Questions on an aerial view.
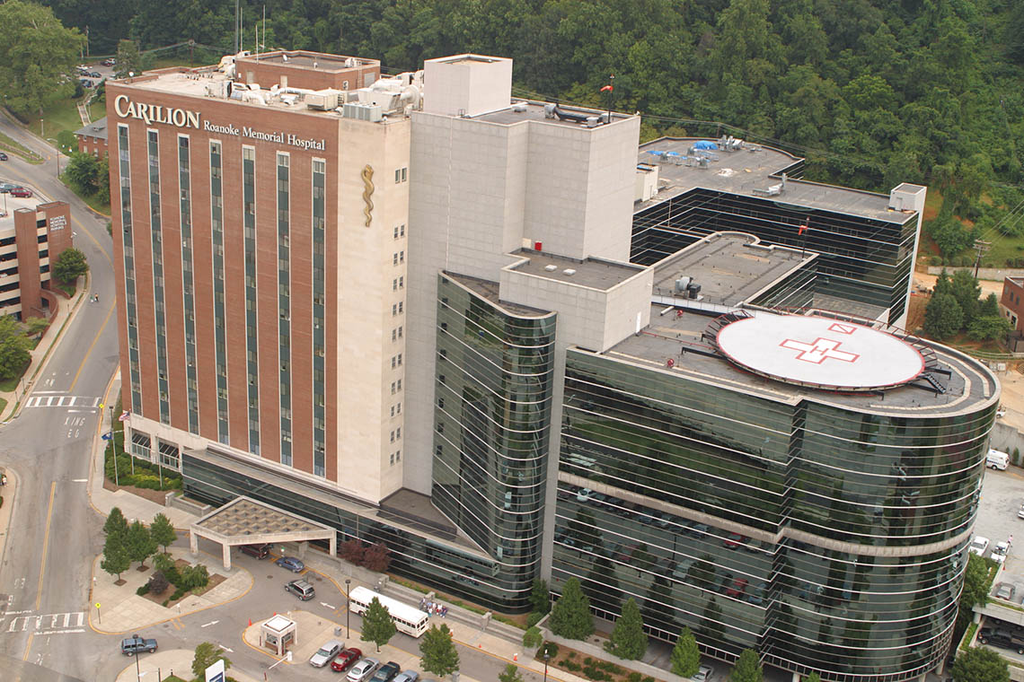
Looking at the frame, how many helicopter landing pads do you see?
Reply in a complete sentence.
In total, there is 1 helicopter landing pad in the scene.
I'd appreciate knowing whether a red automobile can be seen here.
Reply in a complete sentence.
Yes, the frame does contain a red automobile.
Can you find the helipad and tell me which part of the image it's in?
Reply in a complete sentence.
The helipad appears toward the right of the photo.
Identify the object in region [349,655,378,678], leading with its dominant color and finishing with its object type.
white car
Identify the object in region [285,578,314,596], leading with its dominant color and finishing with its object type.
gray car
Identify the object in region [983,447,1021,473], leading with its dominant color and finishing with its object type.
white vehicle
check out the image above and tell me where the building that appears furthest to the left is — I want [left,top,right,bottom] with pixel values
[0,170,75,323]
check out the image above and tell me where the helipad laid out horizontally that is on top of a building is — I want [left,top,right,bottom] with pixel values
[682,310,953,412]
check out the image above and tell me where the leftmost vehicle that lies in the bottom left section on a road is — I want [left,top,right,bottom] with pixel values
[122,633,156,651]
